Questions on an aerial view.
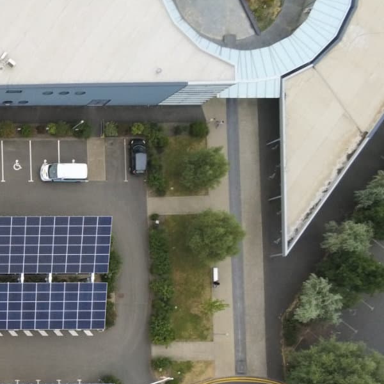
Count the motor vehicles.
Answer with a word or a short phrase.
2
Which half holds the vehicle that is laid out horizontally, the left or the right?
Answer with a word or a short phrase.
left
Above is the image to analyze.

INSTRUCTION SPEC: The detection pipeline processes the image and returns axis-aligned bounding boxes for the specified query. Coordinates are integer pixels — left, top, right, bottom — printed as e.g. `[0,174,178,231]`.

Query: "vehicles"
[40,162,89,182]
[128,139,149,175]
